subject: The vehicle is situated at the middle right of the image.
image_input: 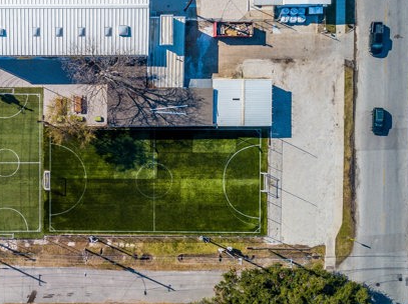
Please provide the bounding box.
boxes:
[369,108,385,134]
